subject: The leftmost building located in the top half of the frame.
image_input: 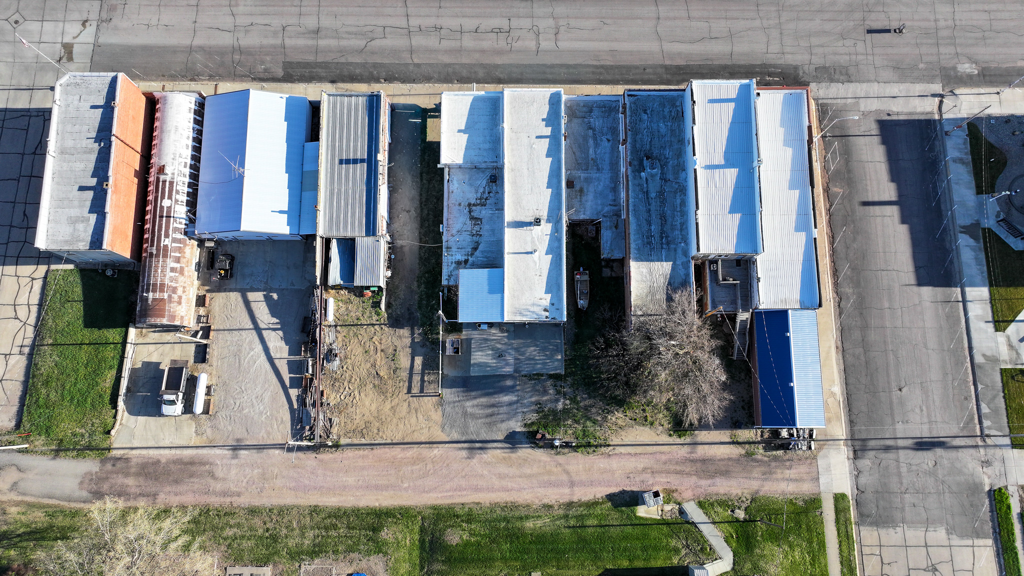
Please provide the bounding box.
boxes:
[36,75,150,264]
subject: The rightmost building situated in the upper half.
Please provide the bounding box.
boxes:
[752,85,824,312]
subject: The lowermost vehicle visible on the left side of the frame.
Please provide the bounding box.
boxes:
[159,357,193,419]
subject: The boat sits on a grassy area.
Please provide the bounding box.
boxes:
[575,267,588,309]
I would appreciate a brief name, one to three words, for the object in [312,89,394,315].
building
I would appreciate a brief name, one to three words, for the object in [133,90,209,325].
shed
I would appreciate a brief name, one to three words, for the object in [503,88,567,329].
building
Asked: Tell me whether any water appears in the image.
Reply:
No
